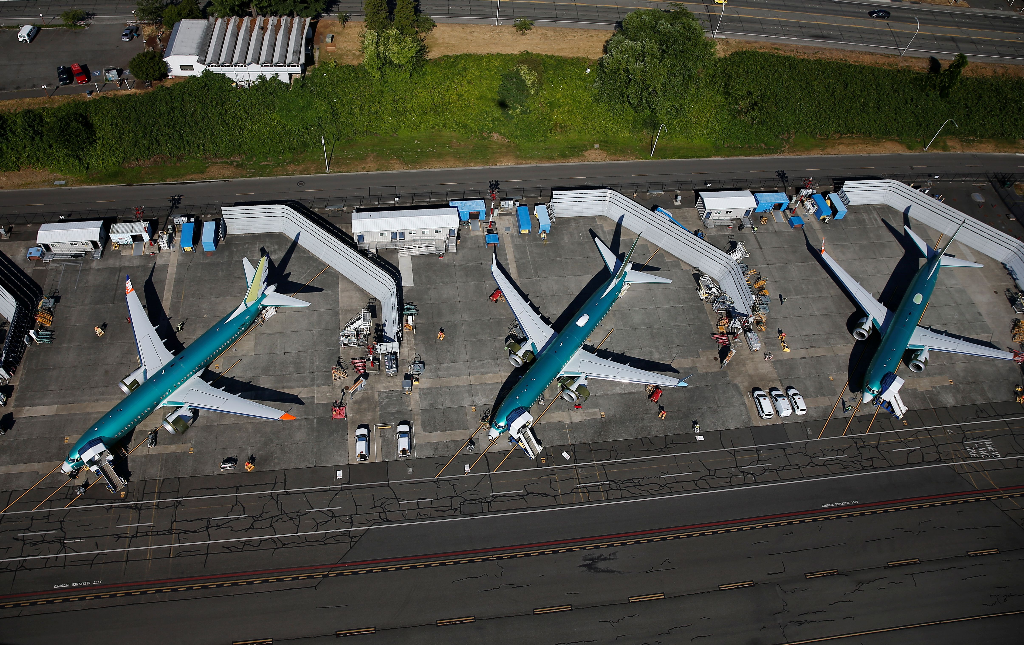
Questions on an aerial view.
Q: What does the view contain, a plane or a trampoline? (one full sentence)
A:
It is a plane that can be seen here.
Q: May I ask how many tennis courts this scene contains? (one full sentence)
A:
The picture shows no tennis courts.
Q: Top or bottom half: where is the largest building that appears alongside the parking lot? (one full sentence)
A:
Seen from above, the largest building that appears alongside the parking lot lies in the top half of the view.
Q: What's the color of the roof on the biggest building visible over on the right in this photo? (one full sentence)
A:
From above, the roof of the biggest building visible over on the right looks white.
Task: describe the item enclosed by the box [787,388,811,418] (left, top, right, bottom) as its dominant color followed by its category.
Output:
white car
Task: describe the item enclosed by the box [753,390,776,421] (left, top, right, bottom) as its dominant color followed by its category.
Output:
white vehicle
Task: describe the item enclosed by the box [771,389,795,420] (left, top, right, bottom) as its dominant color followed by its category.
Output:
white vehicle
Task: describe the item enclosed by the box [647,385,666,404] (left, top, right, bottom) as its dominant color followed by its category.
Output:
red work vehicle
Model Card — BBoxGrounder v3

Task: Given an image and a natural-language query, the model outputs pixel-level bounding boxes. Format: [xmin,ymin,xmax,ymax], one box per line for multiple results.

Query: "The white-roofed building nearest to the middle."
[351,208,459,241]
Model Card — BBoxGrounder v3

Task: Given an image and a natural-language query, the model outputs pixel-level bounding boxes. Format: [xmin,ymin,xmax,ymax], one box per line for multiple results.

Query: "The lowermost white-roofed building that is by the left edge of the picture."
[36,220,108,252]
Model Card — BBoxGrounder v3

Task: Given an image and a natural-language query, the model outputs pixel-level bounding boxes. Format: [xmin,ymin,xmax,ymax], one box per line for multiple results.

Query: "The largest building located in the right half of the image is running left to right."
[697,190,757,218]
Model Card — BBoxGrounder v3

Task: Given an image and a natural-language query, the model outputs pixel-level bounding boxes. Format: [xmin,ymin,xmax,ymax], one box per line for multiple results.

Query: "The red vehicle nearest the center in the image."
[486,285,503,302]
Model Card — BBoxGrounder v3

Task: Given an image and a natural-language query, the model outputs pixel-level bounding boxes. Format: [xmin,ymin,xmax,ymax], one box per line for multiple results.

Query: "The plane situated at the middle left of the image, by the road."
[60,253,311,474]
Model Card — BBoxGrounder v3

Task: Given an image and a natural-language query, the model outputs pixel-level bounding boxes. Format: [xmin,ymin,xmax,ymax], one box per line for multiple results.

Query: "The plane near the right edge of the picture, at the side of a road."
[815,219,1024,403]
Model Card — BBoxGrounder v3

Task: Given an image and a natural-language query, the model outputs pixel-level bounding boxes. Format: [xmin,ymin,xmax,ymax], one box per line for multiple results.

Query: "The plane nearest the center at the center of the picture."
[490,231,693,439]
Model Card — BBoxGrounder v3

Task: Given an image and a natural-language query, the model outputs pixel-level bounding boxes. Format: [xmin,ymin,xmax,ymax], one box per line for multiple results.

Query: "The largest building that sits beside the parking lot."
[164,15,311,87]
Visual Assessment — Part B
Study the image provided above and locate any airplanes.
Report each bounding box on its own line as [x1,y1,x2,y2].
[815,219,1024,403]
[490,231,693,439]
[60,253,311,474]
